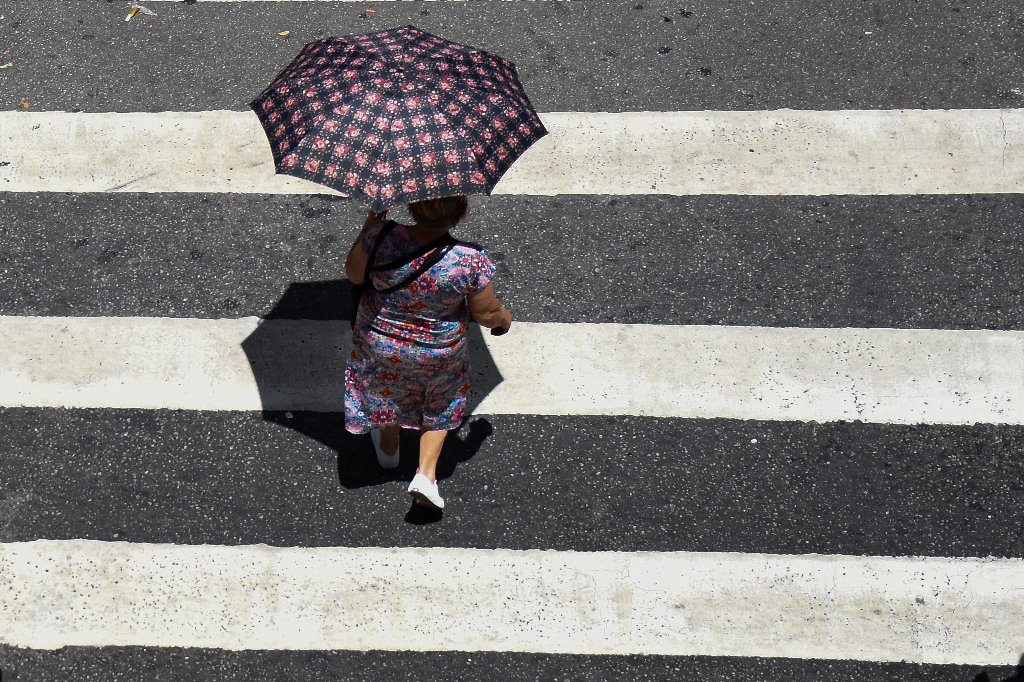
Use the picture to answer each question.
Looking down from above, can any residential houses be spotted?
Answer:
No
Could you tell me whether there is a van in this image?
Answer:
No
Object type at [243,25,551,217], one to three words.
umbrella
